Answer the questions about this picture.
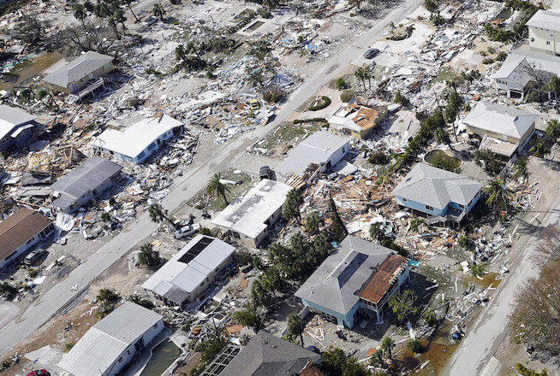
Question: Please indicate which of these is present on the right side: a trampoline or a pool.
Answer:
pool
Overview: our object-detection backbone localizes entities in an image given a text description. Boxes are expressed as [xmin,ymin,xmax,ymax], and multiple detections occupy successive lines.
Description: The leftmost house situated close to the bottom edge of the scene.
[58,304,162,376]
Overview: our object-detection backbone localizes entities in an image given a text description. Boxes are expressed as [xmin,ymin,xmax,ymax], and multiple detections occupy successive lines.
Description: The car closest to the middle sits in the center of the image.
[259,163,275,179]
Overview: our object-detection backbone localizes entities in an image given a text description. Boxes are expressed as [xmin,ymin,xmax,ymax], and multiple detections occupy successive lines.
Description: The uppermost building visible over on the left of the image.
[40,51,115,110]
